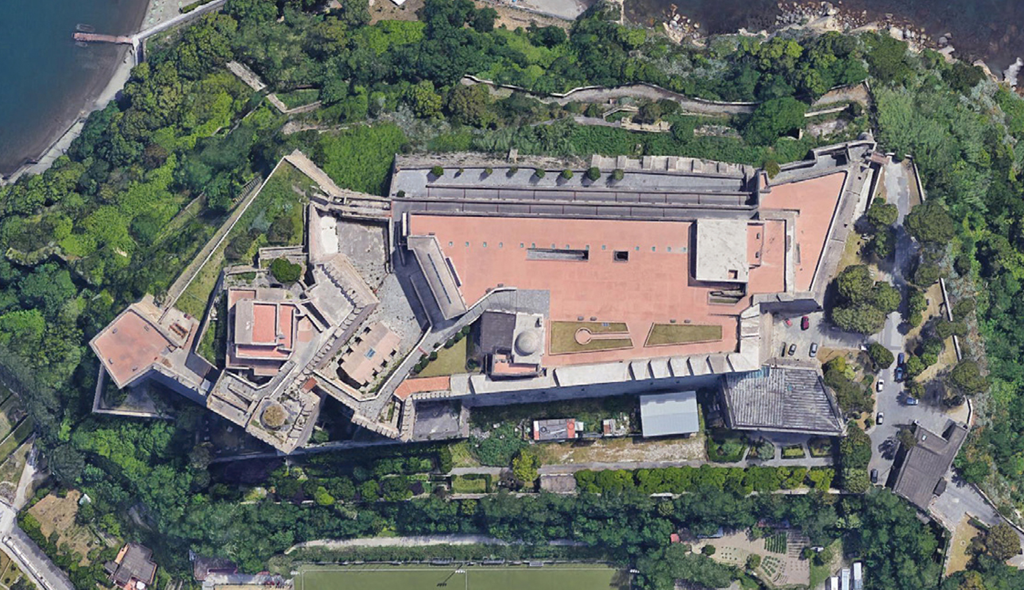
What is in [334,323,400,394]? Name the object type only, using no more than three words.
building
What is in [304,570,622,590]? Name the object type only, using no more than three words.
sports field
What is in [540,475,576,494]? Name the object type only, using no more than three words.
building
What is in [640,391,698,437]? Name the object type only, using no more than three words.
shed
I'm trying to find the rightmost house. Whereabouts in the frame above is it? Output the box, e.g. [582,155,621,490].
[892,420,968,512]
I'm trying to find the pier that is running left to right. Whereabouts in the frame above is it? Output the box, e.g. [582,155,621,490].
[73,32,134,45]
